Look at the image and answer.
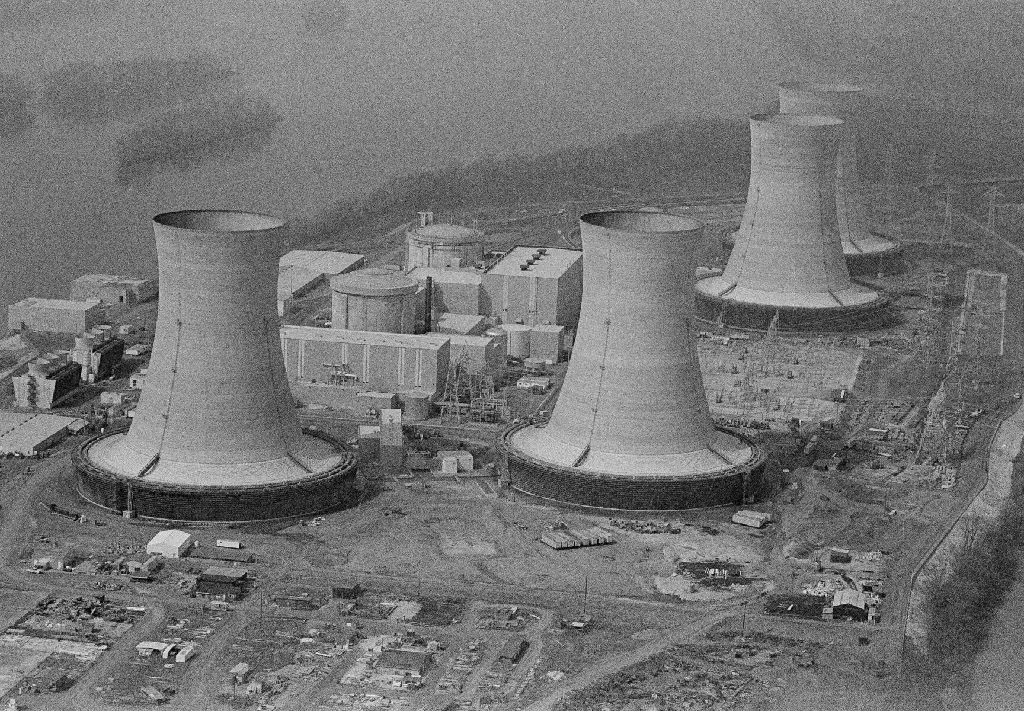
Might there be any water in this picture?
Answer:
Yes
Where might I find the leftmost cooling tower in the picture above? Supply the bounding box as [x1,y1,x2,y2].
[13,354,78,411]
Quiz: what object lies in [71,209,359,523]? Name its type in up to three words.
cooling tower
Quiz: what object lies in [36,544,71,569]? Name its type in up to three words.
shed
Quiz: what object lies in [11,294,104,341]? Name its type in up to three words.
building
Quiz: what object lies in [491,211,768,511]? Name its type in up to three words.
cooling tower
